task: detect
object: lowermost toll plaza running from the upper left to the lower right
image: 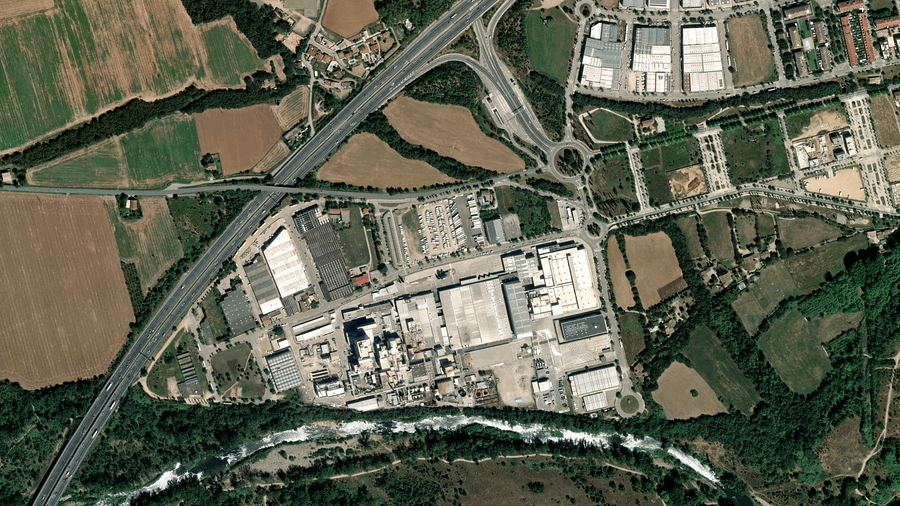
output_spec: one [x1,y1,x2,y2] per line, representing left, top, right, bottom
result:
[484,69,545,142]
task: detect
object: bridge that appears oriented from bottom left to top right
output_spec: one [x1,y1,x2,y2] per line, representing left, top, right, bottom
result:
[33,378,127,506]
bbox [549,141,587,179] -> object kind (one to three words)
roundabout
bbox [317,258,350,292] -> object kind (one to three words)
building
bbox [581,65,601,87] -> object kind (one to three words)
building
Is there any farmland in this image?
Yes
